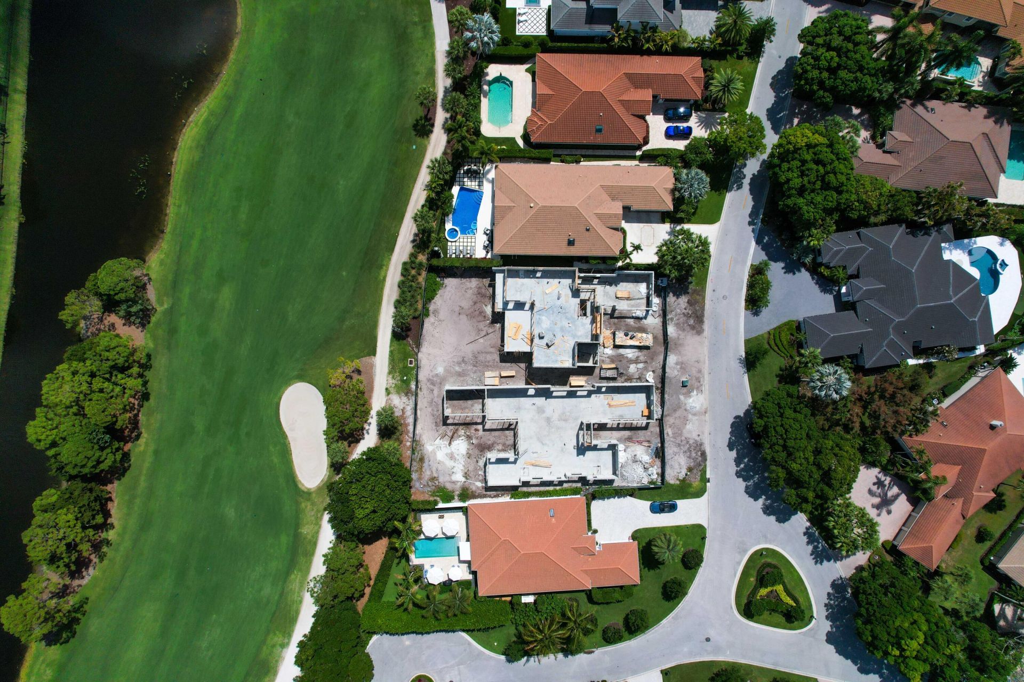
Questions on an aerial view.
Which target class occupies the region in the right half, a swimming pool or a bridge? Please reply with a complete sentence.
The one visible in the right half is a swimming pool.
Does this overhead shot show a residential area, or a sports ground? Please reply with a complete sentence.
This image shows a residential area.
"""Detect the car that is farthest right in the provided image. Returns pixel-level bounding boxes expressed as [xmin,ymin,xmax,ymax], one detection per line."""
[744,421,763,448]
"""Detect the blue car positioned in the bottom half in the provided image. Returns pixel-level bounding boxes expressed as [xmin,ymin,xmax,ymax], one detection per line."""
[649,501,678,514]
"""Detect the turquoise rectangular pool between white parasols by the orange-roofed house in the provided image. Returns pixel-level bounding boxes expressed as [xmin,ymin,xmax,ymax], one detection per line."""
[414,535,458,560]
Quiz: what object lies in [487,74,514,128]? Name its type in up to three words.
swimming pool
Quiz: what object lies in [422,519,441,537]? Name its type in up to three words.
umbrella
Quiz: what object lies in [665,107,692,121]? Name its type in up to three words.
car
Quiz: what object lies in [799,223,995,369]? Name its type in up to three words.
house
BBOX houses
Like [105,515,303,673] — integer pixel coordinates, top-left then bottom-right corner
[551,0,681,35]
[849,97,1012,199]
[992,525,1024,588]
[444,382,656,486]
[893,366,1024,571]
[799,223,995,369]
[495,267,654,367]
[527,53,704,146]
[493,164,675,256]
[468,497,640,597]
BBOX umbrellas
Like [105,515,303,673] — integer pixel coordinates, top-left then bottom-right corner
[426,566,444,584]
[442,519,459,536]
[448,566,462,581]
[422,519,441,537]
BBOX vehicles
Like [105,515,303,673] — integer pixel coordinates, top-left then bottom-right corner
[665,126,692,138]
[649,501,678,514]
[744,421,763,448]
[665,107,692,121]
